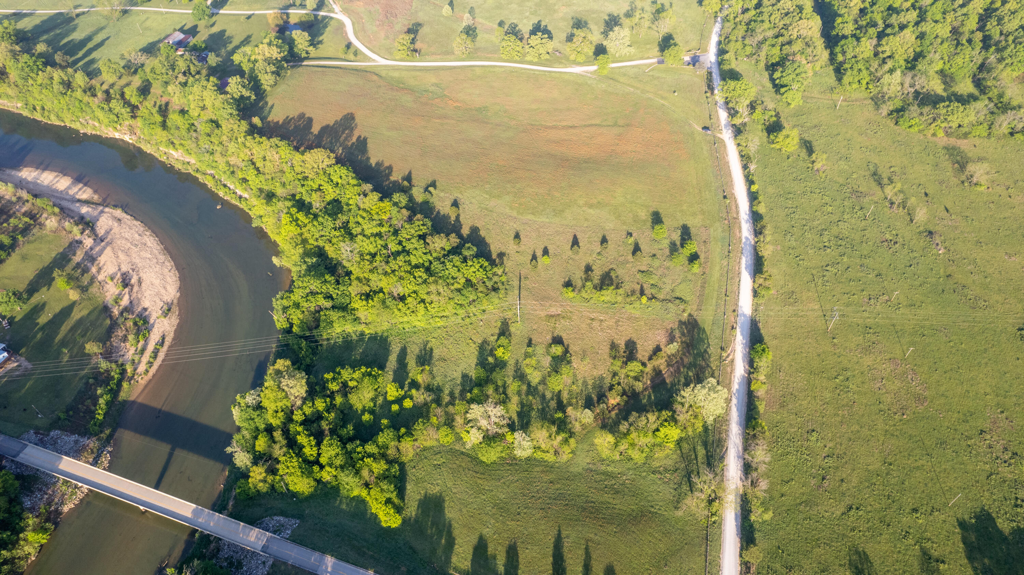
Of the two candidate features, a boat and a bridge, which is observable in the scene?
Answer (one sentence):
Of the two, only a bridge appears.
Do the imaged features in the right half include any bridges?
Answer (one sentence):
No, no bridge can be made out in the right half.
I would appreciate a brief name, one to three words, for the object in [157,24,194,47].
barn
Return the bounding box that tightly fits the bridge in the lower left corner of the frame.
[5,440,279,558]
